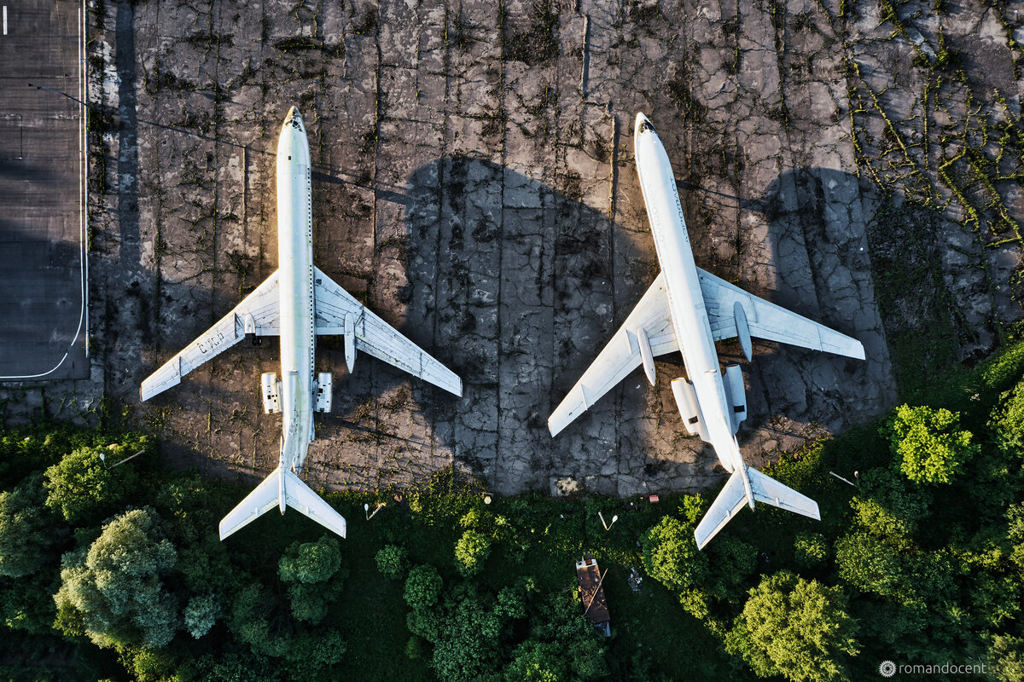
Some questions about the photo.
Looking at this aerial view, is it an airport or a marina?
airport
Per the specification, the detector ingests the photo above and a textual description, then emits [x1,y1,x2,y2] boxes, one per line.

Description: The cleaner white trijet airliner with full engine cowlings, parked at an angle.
[551,114,864,548]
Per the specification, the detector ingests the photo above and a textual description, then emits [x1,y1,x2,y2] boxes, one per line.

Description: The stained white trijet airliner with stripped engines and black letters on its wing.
[141,107,461,540]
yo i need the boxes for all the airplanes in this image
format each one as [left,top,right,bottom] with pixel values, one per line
[551,114,864,548]
[141,107,461,540]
